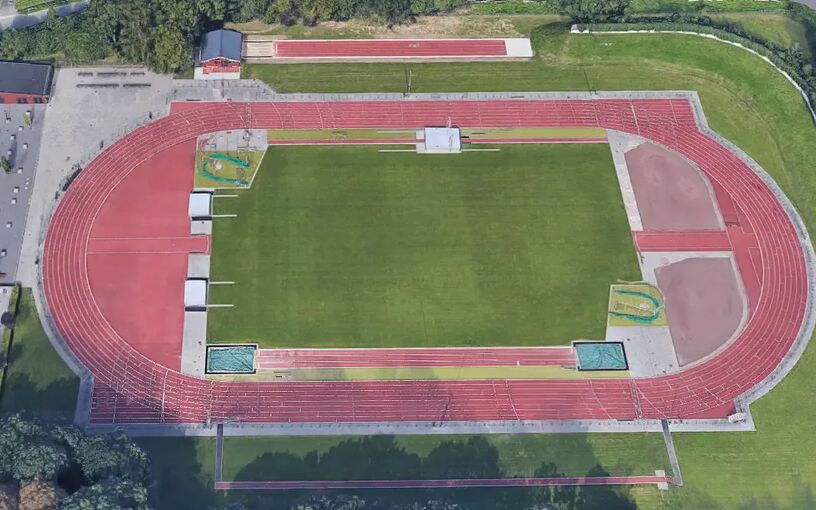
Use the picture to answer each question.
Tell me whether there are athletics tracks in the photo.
Yes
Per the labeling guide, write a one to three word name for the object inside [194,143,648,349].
sports field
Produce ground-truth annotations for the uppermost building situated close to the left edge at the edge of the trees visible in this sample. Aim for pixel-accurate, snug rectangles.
[0,61,53,103]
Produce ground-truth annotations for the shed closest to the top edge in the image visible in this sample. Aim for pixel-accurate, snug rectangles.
[199,27,241,75]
